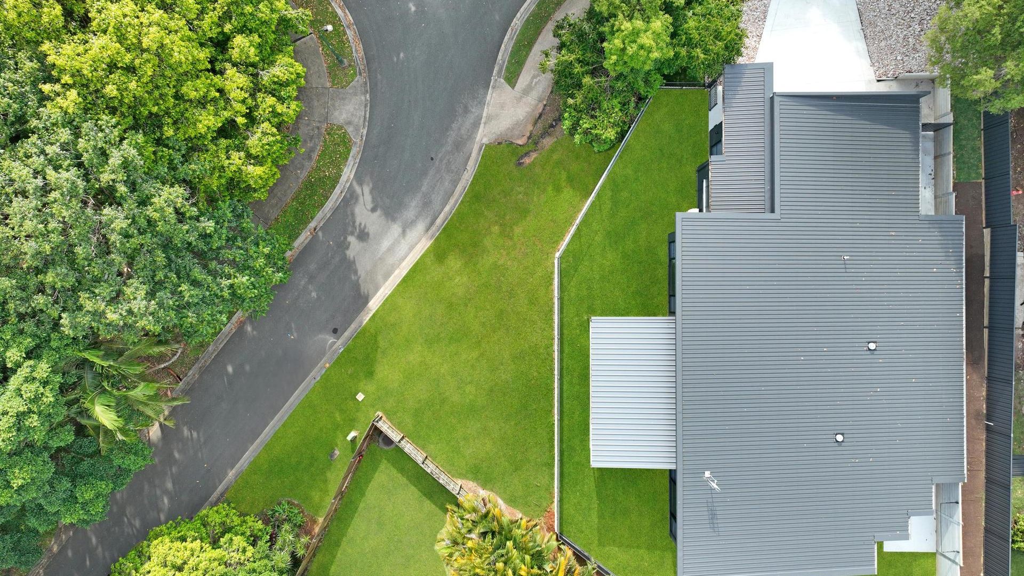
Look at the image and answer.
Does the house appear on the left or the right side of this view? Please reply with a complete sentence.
The house is on the right side of the image.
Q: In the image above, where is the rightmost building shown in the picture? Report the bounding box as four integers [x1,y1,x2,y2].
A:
[668,62,967,576]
